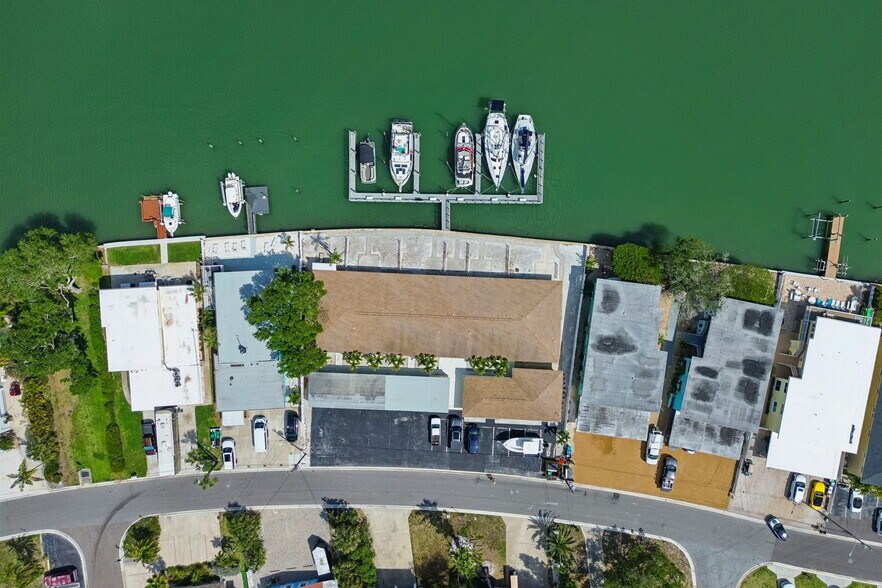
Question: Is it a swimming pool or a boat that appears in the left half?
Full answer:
It is a boat that can be seen in the left half.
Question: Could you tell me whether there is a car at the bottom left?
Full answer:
Yes, the scene does show a car at the bottom left.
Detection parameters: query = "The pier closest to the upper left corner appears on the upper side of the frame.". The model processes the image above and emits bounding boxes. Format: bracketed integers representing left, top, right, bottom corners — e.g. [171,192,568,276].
[137,195,167,239]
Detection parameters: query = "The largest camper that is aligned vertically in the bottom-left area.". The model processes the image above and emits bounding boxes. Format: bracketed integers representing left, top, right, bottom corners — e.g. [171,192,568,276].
[156,406,182,475]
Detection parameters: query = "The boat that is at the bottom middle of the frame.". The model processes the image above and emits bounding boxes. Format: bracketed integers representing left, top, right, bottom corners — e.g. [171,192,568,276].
[500,437,548,455]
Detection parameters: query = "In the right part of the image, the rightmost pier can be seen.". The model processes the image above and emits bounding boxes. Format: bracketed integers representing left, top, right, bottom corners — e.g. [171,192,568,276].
[821,213,854,277]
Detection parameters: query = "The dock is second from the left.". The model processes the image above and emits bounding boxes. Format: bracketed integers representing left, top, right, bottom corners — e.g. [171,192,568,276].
[243,186,270,235]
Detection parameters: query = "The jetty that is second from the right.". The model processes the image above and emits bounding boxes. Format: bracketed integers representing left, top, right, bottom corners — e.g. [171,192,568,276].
[348,129,546,231]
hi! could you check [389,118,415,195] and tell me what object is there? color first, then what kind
white boat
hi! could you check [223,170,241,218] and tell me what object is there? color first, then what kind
white boat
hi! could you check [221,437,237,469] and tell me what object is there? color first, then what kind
white car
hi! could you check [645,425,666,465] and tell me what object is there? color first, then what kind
white vehicle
